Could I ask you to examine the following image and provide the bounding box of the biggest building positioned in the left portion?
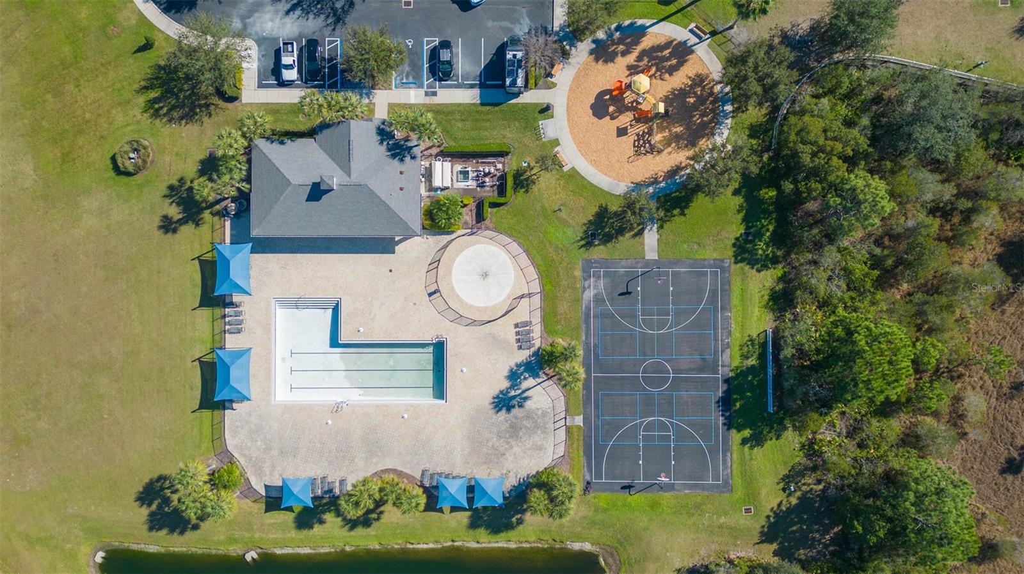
[251,117,422,238]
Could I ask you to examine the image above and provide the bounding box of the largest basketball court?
[581,259,732,494]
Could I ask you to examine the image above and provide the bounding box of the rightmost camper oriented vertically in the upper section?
[503,35,527,93]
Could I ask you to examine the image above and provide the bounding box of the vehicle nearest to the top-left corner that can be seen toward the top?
[277,41,297,83]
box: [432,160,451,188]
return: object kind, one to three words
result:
shed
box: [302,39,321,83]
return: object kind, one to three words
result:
vehicle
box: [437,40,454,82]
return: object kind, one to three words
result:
car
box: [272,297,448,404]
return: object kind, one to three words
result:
swimming pool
